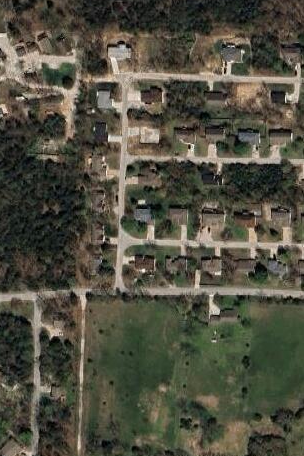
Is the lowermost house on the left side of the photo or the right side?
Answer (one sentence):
You can find the lowermost house on the left side of the picture.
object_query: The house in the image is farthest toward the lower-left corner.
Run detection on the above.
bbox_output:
[0,436,30,456]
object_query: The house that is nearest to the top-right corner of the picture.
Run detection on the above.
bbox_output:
[282,45,302,65]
